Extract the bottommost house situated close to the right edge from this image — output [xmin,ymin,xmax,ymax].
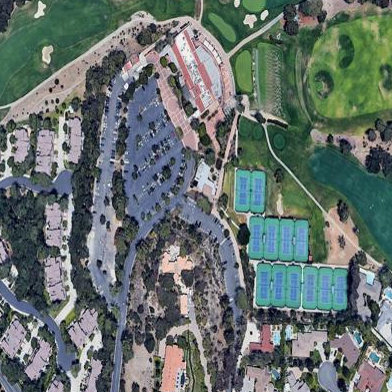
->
[358,361,387,392]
